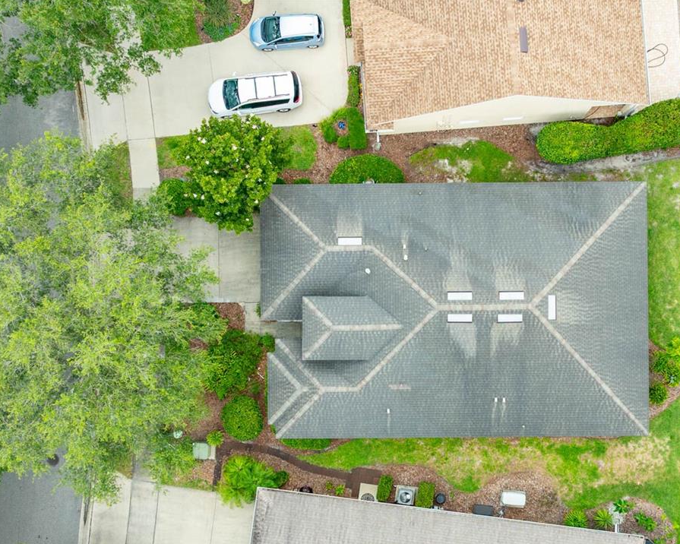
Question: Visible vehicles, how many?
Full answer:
The photo contains 2 vehicles.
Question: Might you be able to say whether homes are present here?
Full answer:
Yes, the image includes a home.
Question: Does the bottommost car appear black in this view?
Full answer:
No, from above the bottommost car looks white.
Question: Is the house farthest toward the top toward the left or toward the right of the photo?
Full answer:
You can find the house farthest toward the top on the right side of the picture.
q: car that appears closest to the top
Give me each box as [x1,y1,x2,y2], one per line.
[249,10,325,53]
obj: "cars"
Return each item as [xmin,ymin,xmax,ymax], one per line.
[208,71,304,115]
[249,10,325,53]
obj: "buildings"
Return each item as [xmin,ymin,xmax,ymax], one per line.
[249,487,644,544]
[259,181,649,439]
[341,0,652,157]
